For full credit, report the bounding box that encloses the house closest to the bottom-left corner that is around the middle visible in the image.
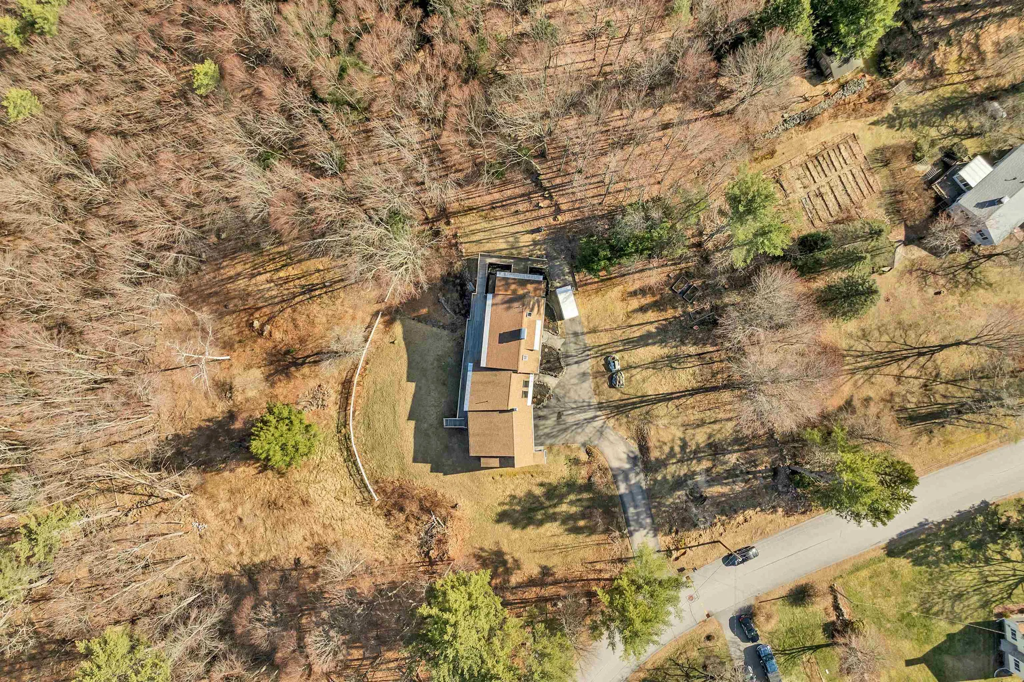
[463,272,547,468]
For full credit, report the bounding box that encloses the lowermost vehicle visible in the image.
[758,647,785,682]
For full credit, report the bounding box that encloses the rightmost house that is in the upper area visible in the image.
[942,138,1024,248]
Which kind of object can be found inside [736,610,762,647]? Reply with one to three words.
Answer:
car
